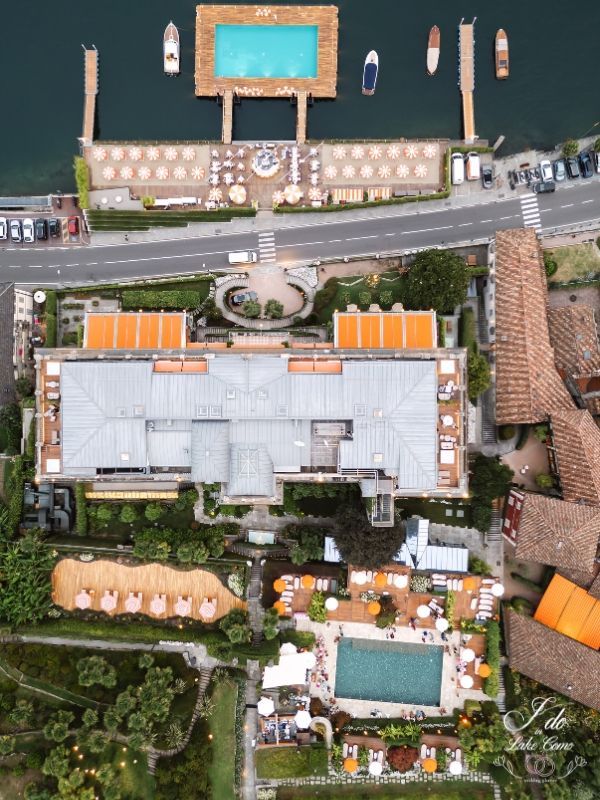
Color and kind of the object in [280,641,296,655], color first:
white umbrella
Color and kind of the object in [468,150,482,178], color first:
white vehicle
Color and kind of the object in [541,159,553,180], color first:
white vehicle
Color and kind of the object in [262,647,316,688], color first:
white tent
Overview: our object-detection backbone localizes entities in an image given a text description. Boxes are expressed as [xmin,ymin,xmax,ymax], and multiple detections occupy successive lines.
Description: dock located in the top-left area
[80,42,99,145]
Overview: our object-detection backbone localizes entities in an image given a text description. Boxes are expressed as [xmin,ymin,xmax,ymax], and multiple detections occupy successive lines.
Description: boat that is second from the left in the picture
[362,49,378,98]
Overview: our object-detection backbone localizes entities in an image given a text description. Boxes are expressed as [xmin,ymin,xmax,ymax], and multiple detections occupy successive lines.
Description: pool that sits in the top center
[195,5,337,102]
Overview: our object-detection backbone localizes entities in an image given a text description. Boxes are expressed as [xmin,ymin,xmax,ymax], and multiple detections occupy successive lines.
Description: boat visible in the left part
[163,20,179,77]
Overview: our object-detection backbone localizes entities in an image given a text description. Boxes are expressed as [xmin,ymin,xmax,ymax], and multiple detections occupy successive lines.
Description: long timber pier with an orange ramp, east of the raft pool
[459,14,477,145]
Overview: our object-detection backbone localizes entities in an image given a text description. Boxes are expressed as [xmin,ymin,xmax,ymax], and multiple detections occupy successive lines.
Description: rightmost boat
[495,28,509,81]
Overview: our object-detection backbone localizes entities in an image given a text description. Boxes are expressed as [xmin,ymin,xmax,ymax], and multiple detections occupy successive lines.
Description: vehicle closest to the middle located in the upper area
[230,290,257,305]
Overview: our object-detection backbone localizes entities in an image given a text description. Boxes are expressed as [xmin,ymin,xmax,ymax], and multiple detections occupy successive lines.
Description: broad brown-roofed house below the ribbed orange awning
[501,603,600,712]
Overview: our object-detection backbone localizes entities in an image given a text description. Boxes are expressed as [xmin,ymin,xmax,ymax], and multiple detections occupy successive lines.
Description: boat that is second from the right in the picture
[427,24,440,77]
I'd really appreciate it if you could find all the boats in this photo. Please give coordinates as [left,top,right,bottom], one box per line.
[495,28,509,81]
[427,24,440,77]
[362,49,378,98]
[163,20,179,77]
